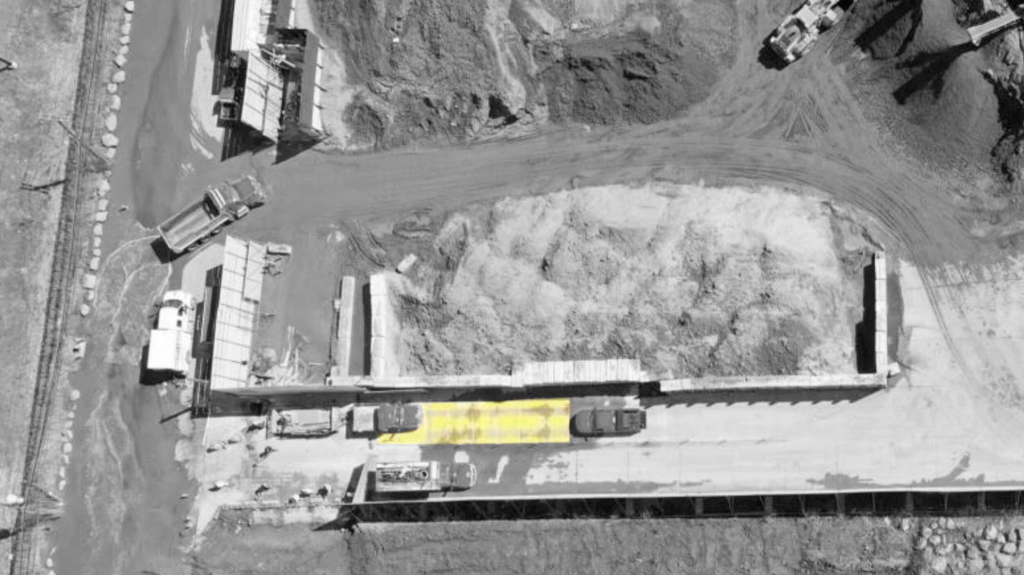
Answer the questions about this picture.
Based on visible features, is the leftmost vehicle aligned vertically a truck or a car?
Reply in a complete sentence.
I'd identify the leftmost vehicle aligned vertically as a truck.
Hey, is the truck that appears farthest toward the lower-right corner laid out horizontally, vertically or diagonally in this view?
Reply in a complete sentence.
The truck that appears farthest toward the lower-right corner has been laid out horizontally relative to the frame.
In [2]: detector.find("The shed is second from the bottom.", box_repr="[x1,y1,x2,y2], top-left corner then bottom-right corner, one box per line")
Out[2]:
[240,51,286,151]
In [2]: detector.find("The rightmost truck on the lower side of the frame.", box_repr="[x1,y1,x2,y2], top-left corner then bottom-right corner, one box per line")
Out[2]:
[573,405,651,437]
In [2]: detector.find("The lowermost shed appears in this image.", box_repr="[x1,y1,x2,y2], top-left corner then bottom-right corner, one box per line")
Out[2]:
[210,236,269,392]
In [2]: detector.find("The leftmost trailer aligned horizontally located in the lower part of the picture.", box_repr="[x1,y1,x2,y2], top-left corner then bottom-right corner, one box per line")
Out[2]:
[264,404,334,437]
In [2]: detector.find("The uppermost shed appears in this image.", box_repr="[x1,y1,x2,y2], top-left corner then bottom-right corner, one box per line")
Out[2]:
[231,0,282,74]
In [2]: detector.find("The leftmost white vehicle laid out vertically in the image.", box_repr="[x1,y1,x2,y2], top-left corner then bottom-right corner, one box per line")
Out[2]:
[149,291,197,375]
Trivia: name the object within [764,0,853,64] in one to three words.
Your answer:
work vehicle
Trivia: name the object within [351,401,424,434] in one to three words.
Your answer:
truck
